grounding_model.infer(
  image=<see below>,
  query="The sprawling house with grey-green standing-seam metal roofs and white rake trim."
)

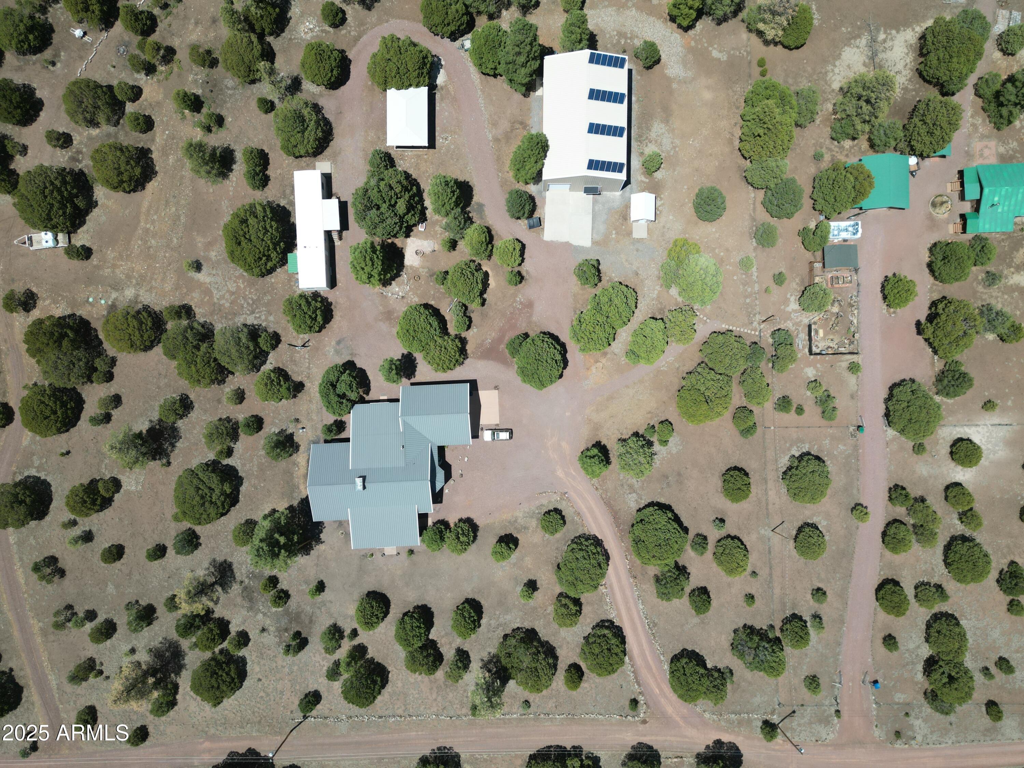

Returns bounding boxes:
[307,383,472,550]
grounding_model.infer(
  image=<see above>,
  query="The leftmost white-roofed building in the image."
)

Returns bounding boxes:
[288,170,344,290]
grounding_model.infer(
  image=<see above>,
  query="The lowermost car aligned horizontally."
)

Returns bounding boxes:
[484,430,511,442]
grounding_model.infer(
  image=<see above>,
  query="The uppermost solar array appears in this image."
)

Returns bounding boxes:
[589,52,625,69]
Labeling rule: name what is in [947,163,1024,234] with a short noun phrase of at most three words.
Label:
house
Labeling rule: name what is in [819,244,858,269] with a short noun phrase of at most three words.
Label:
shed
